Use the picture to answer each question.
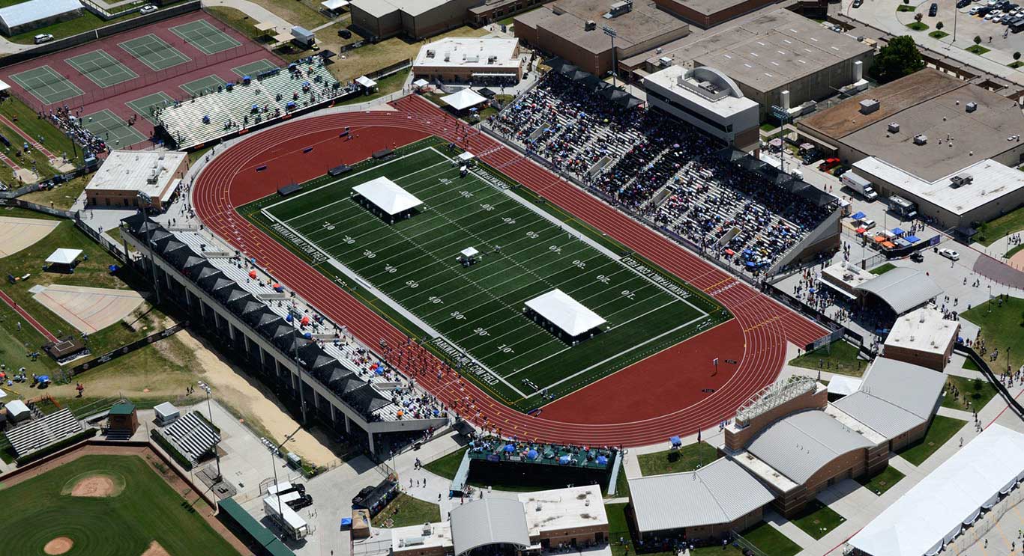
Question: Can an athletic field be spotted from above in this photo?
Yes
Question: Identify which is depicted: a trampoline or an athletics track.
athletics track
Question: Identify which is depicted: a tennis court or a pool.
tennis court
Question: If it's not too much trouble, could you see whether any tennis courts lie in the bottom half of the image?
No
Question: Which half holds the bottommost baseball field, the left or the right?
left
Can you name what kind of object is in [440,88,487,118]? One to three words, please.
tent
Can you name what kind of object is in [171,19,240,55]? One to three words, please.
tennis court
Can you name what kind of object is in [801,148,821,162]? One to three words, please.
vehicle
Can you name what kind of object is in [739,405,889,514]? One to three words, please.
building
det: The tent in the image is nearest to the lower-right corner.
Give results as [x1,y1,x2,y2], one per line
[847,424,1024,556]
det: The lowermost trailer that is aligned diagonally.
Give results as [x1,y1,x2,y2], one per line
[264,495,308,542]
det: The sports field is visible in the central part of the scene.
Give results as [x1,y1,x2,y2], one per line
[237,135,735,413]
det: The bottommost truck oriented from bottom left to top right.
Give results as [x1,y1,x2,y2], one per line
[350,481,376,502]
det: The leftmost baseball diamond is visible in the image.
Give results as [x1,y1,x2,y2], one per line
[0,455,243,556]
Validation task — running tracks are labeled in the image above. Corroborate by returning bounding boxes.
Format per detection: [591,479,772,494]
[197,110,786,449]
